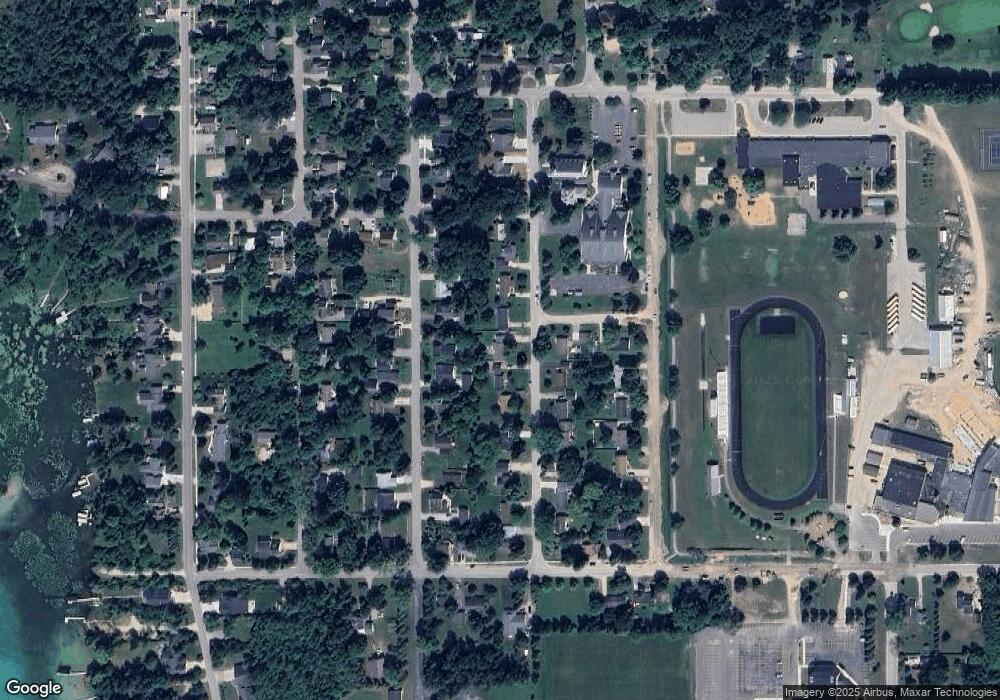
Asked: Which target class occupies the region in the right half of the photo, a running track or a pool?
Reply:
running track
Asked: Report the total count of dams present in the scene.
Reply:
zero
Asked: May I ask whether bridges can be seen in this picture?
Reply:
No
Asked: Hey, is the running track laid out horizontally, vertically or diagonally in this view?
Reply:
vertically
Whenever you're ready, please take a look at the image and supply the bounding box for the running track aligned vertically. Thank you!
[729,296,827,511]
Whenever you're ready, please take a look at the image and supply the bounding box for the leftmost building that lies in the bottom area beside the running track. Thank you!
[706,464,721,496]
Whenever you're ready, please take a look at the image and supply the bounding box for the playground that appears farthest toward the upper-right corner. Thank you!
[714,176,775,226]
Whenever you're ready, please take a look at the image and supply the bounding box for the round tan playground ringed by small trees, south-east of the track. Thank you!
[809,514,832,541]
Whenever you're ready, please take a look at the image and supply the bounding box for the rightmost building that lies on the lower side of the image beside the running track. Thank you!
[871,423,1000,522]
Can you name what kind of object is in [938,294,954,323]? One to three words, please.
building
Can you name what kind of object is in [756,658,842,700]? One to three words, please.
building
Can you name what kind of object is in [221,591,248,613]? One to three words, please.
house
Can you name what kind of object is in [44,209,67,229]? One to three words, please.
house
